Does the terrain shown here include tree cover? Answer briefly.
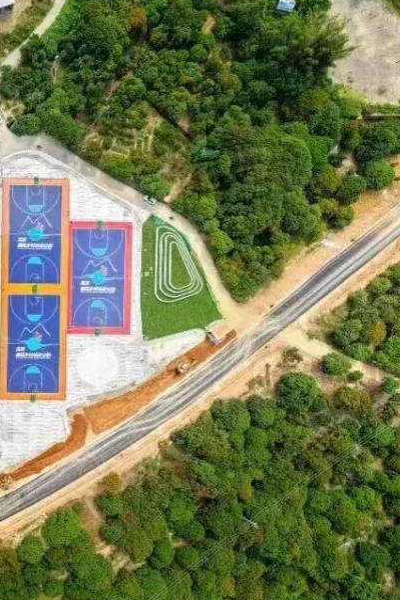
Yes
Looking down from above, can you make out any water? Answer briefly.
No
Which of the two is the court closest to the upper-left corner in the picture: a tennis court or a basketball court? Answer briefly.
basketball court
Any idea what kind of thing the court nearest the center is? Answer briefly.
basketball court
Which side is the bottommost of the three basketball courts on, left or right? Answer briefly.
left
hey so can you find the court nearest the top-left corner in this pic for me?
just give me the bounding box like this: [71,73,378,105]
[1,178,70,289]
